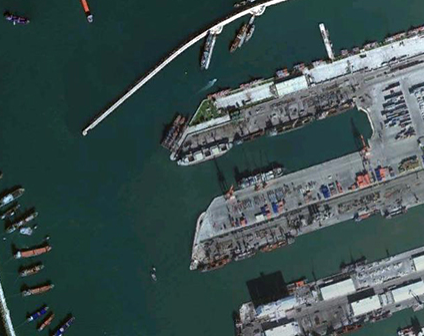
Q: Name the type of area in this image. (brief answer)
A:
port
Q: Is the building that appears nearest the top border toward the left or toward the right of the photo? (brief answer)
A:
right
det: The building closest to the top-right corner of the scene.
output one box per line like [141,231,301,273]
[310,58,354,83]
